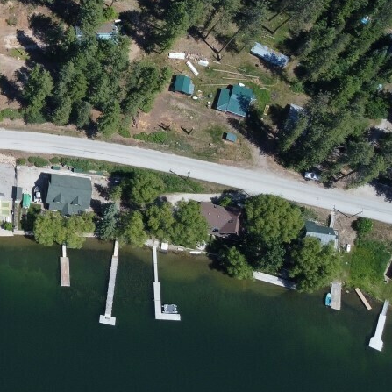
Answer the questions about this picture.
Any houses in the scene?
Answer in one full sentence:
Yes, this view includes a house.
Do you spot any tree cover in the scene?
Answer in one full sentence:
Yes, there's tree cover in this view.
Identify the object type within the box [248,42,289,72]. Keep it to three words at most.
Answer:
house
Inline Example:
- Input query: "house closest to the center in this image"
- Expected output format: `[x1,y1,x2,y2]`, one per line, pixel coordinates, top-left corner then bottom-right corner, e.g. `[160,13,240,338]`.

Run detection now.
[201,204,239,236]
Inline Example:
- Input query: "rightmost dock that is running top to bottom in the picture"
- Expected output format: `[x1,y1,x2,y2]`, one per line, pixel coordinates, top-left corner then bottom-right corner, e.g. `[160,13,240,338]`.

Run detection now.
[369,300,388,354]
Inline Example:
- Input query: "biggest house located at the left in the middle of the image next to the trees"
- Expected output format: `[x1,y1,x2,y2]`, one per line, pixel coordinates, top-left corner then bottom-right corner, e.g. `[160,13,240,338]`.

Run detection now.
[47,175,94,216]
